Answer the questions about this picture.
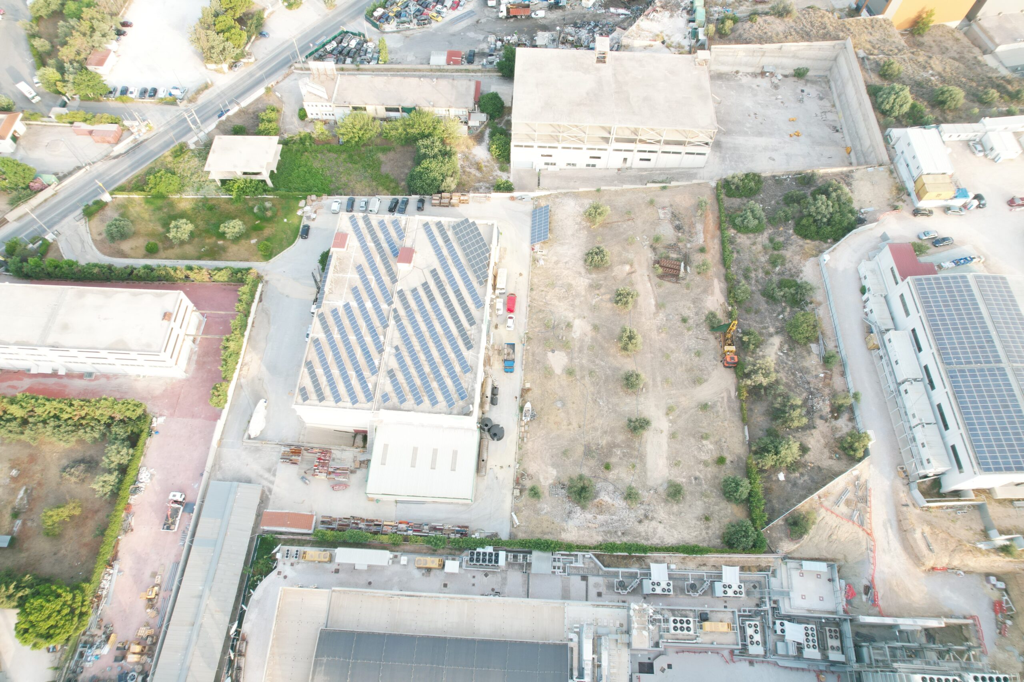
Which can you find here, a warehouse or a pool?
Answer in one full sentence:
There is a warehouse in the scene.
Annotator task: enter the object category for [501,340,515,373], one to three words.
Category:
vehicle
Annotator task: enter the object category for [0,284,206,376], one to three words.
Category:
building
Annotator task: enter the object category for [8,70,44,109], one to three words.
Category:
truck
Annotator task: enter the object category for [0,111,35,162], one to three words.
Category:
house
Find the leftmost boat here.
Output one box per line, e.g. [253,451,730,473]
[246,392,267,442]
